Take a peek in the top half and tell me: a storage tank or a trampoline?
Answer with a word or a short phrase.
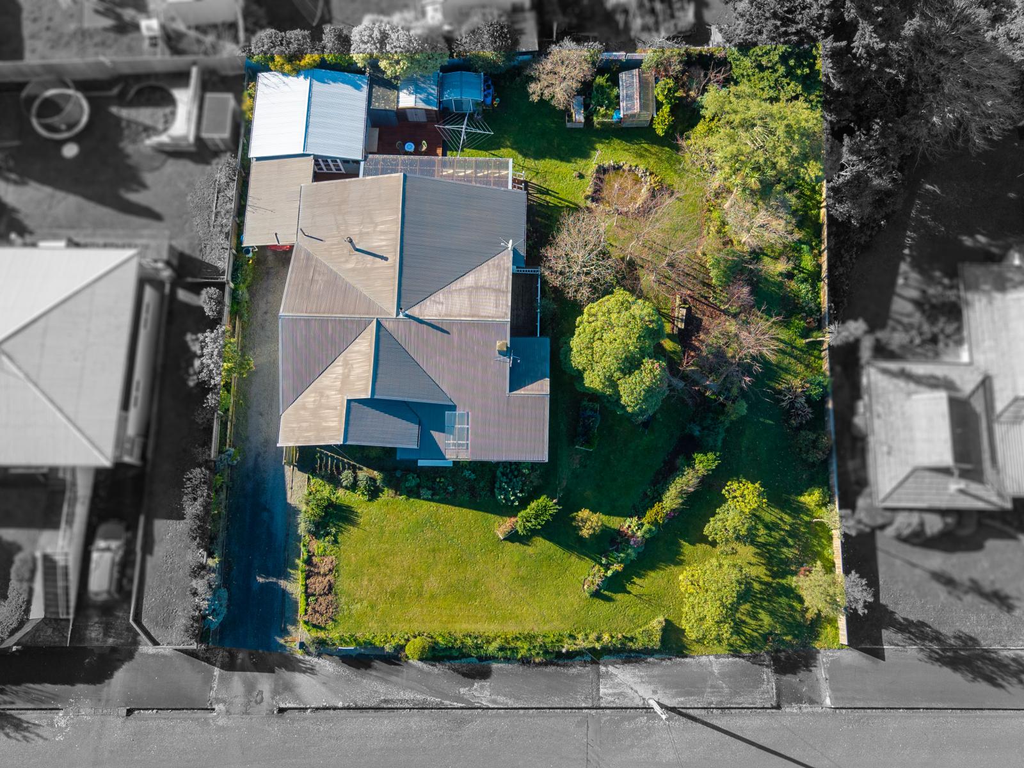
trampoline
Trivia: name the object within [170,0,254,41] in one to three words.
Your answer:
shed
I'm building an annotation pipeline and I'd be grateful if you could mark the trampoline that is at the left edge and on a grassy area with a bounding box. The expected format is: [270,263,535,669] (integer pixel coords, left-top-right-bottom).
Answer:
[7,71,96,144]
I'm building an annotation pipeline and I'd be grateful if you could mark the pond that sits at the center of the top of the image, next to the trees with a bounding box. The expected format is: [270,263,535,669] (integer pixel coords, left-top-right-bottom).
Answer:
[584,160,655,215]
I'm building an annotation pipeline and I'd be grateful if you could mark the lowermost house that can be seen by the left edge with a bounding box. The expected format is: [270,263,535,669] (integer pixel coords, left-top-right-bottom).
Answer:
[0,235,171,467]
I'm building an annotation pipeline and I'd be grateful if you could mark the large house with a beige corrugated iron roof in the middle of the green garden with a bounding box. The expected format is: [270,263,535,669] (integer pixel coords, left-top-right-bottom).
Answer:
[278,172,551,465]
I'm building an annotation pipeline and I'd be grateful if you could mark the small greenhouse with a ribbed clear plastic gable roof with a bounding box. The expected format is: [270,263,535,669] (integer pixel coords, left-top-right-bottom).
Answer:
[616,68,654,127]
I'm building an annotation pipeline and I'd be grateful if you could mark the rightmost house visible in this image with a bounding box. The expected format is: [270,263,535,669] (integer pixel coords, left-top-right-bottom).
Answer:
[850,252,1024,510]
